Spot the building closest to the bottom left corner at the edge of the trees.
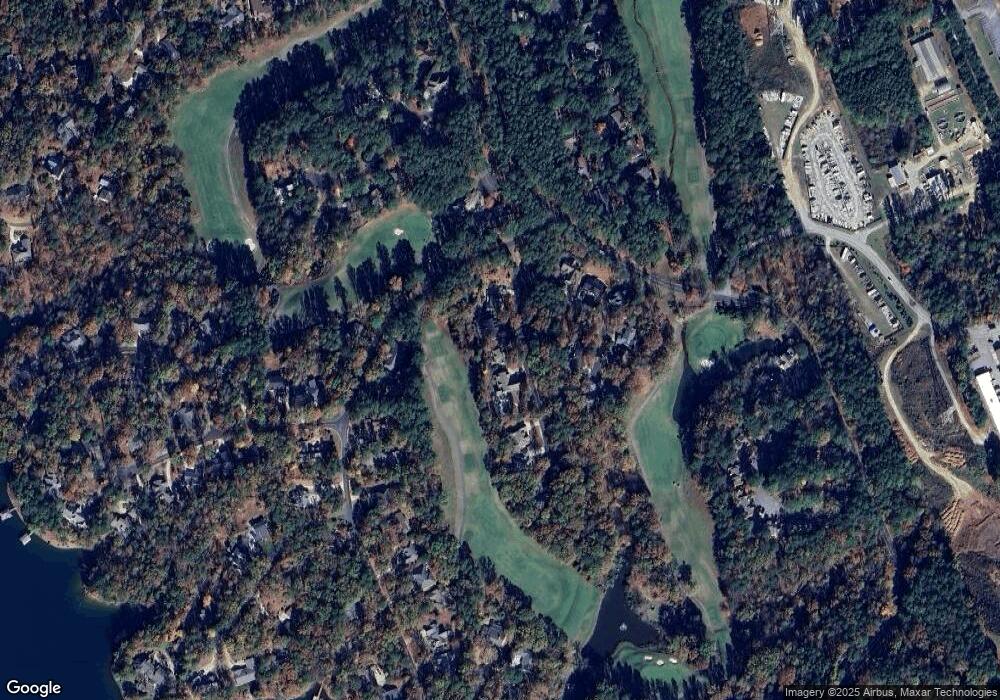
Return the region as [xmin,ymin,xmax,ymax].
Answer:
[130,657,169,700]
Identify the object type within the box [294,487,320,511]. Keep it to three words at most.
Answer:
house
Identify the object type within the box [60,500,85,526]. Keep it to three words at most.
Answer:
house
